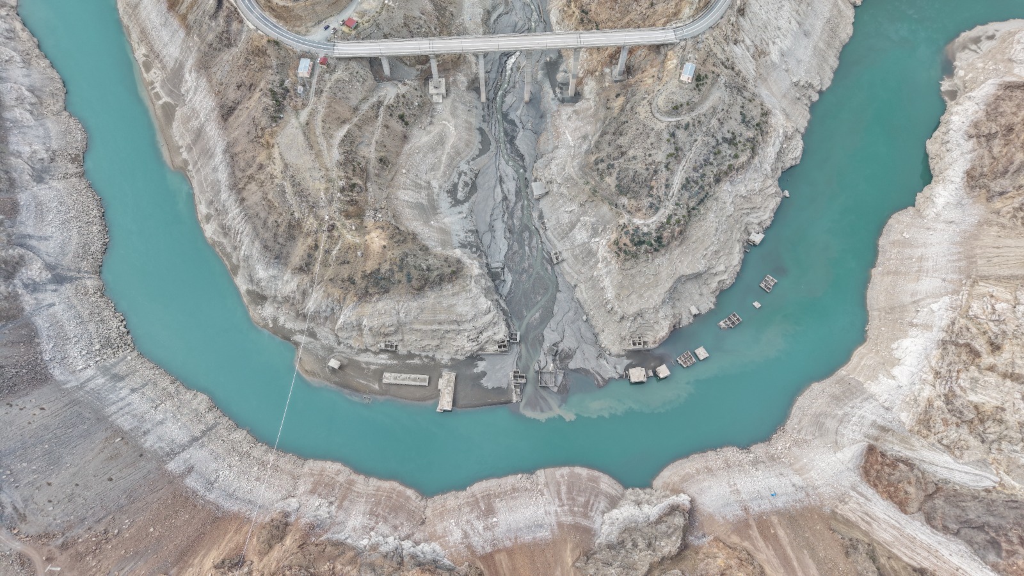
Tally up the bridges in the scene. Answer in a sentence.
Just 1 bridge appears in this view.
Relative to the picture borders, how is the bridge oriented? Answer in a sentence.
What the image shows is the bridge lying horizontally.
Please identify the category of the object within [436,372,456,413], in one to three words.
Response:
house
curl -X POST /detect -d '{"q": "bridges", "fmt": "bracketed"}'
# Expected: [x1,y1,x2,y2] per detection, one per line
[325,27,681,103]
